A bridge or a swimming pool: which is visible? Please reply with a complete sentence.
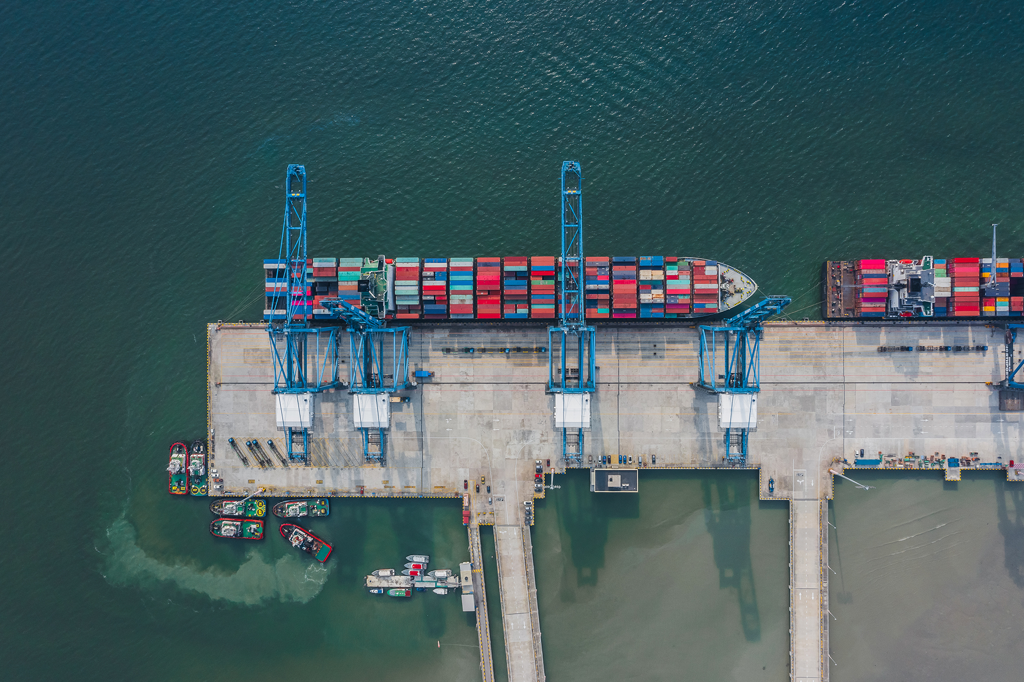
I can see a bridge in this picture.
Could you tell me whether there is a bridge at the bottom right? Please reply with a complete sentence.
Yes, a bridge is visible at the bottom right.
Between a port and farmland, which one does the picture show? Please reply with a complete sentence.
The picture captures a port.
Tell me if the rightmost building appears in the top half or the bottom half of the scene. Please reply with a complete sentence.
You can find the rightmost building in the bottom half.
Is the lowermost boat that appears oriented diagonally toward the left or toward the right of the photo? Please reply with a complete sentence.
The lowermost boat that appears oriented diagonally is on the left side of the image.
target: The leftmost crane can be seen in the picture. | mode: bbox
[262,162,347,462]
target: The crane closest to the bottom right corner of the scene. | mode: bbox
[995,327,1024,389]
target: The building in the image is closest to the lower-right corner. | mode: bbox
[590,467,638,492]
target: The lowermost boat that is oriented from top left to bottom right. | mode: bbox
[280,519,336,566]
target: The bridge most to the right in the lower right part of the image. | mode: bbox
[787,499,830,682]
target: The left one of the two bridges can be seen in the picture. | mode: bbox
[492,525,545,682]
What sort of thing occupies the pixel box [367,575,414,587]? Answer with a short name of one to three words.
pier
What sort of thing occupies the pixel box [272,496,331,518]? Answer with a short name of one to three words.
boat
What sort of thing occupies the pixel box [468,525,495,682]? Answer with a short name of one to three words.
pier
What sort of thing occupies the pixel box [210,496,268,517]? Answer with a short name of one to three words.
boat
